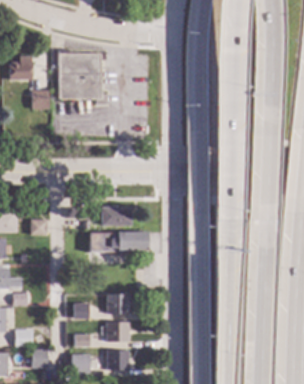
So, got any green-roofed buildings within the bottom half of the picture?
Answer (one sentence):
No, no green-roofed building can be made out within the bottom half of the picture.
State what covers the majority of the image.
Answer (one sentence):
Most of the picture is covered by paved ground.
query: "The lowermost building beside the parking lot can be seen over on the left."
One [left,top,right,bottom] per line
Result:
[32,90,50,110]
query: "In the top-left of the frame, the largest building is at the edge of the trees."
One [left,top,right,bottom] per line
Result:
[58,52,104,100]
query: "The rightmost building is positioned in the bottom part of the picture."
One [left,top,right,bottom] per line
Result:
[119,232,150,250]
